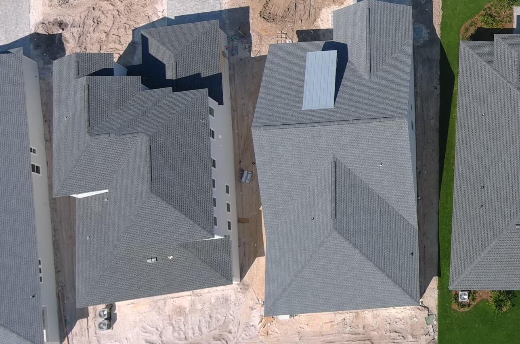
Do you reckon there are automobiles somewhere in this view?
No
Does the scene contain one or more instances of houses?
Yes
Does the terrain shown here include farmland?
No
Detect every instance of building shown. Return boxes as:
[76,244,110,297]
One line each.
[449,31,520,291]
[251,0,421,317]
[0,47,61,344]
[54,19,240,309]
